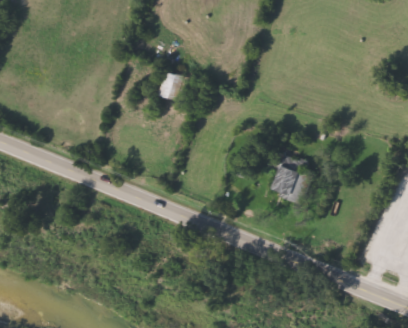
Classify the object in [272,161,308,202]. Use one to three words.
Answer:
house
